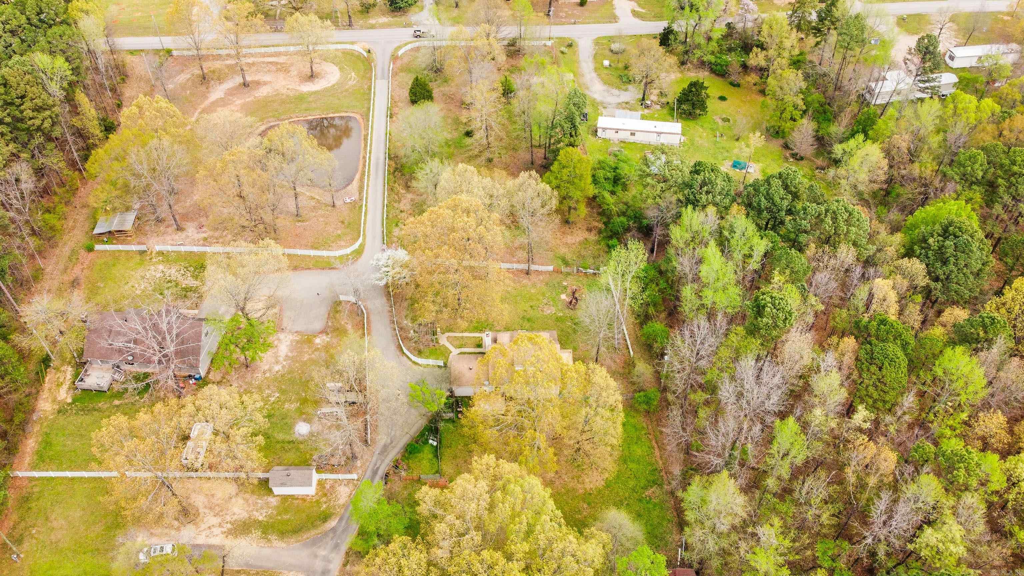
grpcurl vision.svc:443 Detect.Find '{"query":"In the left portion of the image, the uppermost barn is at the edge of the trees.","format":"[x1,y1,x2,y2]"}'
[93,210,146,242]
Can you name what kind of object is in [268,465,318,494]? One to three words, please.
shed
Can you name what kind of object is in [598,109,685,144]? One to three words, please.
house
